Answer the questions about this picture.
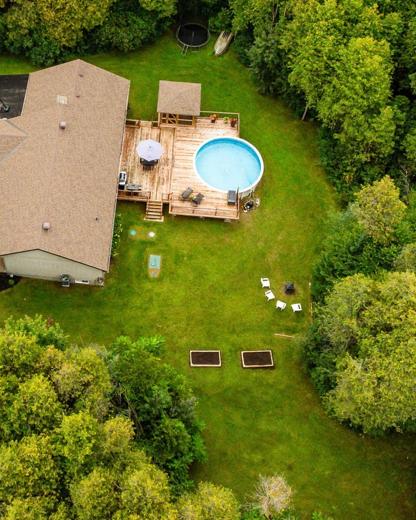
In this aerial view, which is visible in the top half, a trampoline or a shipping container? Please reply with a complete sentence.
The feature located in the top half is a trampoline.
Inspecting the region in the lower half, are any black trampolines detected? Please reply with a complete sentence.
No, I see no black trampoline in the lower half.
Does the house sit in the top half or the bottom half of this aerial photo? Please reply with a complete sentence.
Seen from above, the house lies in the top half of the view.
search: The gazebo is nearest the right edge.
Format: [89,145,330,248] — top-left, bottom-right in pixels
[157,81,202,127]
